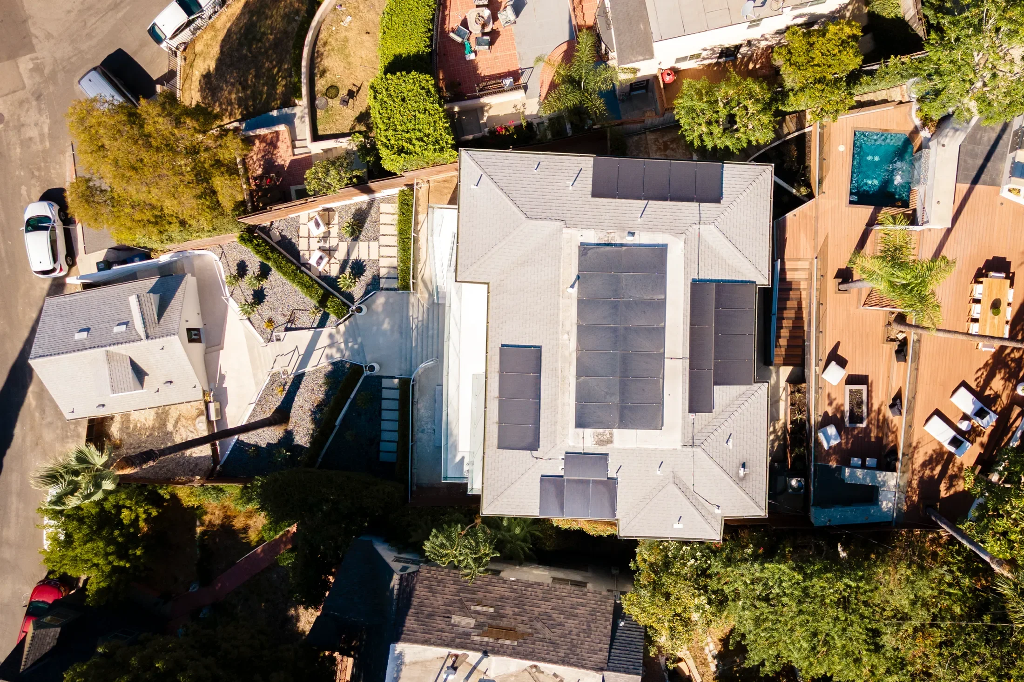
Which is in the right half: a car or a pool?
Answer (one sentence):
The one visible in the right half is a pool.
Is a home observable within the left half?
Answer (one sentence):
Yes, a home appears within the left half.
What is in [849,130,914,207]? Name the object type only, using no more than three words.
swimming pool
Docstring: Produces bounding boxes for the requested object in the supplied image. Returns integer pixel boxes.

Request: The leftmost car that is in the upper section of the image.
[21,200,73,280]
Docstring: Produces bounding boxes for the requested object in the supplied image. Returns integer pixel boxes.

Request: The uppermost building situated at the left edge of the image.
[30,272,209,422]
